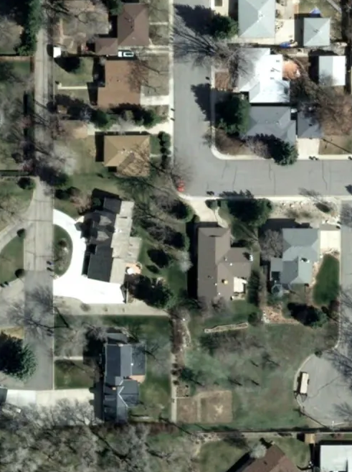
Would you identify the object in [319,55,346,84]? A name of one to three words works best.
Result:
building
